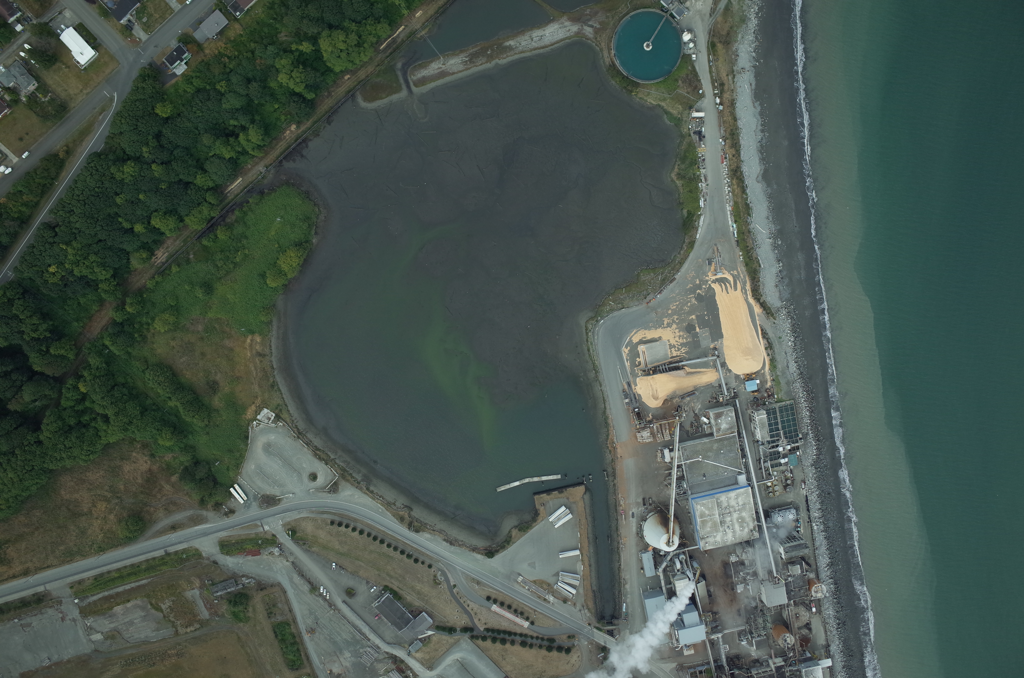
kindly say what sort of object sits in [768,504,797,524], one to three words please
cooling tower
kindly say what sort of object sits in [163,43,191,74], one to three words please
house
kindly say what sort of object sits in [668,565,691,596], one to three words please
building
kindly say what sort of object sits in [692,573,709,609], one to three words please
building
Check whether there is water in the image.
Yes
